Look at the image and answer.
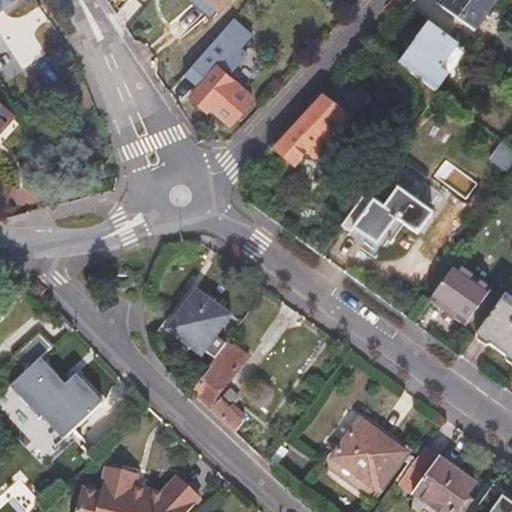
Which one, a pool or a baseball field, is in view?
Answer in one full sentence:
This aerial view contains a pool.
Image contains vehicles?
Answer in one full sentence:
Yes, there's a vehicle here.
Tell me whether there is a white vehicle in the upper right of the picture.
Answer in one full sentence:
No, I can find no white vehicle in the upper right of the picture.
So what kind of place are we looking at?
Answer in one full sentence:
This looks like a residential area.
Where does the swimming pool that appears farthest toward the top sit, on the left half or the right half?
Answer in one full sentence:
The swimming pool that appears farthest toward the top sits on the right side.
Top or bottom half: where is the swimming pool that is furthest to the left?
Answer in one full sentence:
The swimming pool that is furthest to the left is in the bottom half of the image.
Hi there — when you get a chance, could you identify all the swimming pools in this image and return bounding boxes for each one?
[12,334,54,371]
[432,159,478,200]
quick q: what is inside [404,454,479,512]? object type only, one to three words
house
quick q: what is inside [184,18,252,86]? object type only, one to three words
house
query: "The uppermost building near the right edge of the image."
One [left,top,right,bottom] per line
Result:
[436,0,502,34]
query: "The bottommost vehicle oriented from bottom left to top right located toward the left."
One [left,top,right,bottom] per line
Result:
[174,80,196,99]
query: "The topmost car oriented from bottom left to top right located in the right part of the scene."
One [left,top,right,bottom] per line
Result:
[383,408,402,430]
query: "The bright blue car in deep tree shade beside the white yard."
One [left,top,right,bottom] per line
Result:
[39,58,58,80]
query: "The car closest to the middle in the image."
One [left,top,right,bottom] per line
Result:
[340,290,362,310]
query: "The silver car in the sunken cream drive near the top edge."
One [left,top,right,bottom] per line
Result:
[178,8,200,28]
